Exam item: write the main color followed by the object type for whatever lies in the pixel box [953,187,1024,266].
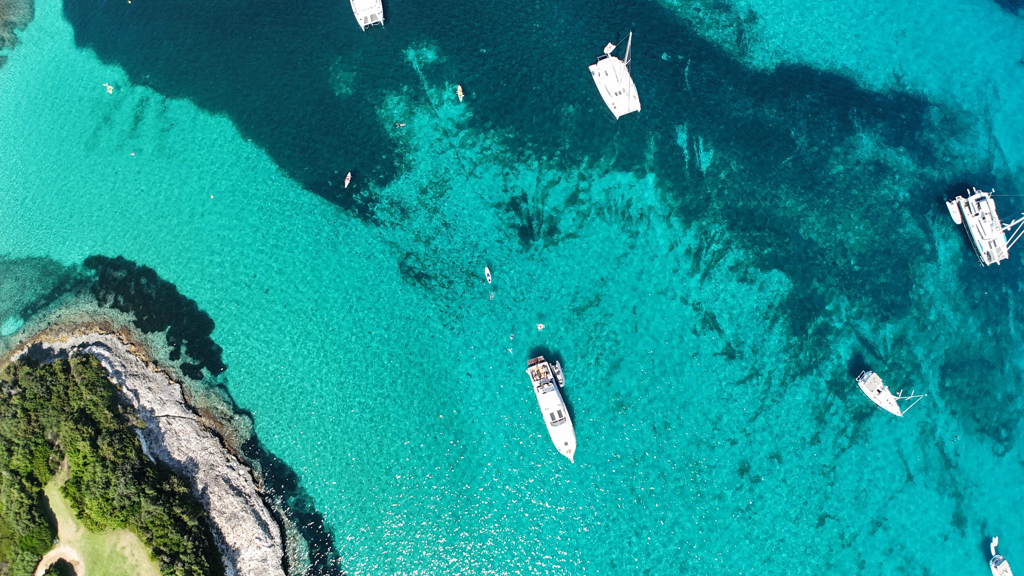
white boat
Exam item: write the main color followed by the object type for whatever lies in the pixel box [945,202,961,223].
white boat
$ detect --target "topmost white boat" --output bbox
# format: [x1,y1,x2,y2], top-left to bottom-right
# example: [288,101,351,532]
[347,0,386,36]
